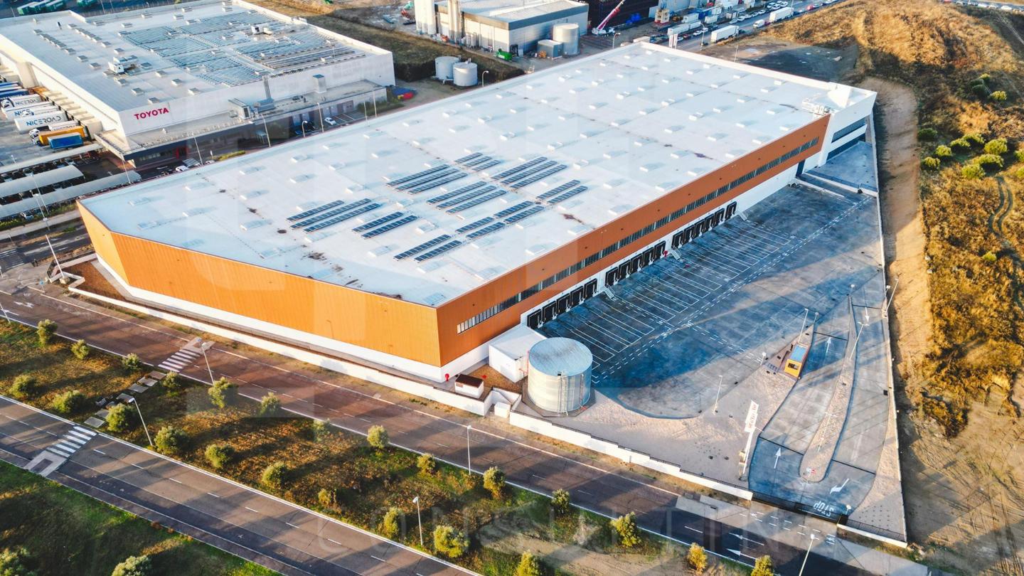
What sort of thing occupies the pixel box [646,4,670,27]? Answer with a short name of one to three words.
building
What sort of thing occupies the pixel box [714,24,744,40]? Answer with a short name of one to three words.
vehicle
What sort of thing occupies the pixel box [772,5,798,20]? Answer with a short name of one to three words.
vehicle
